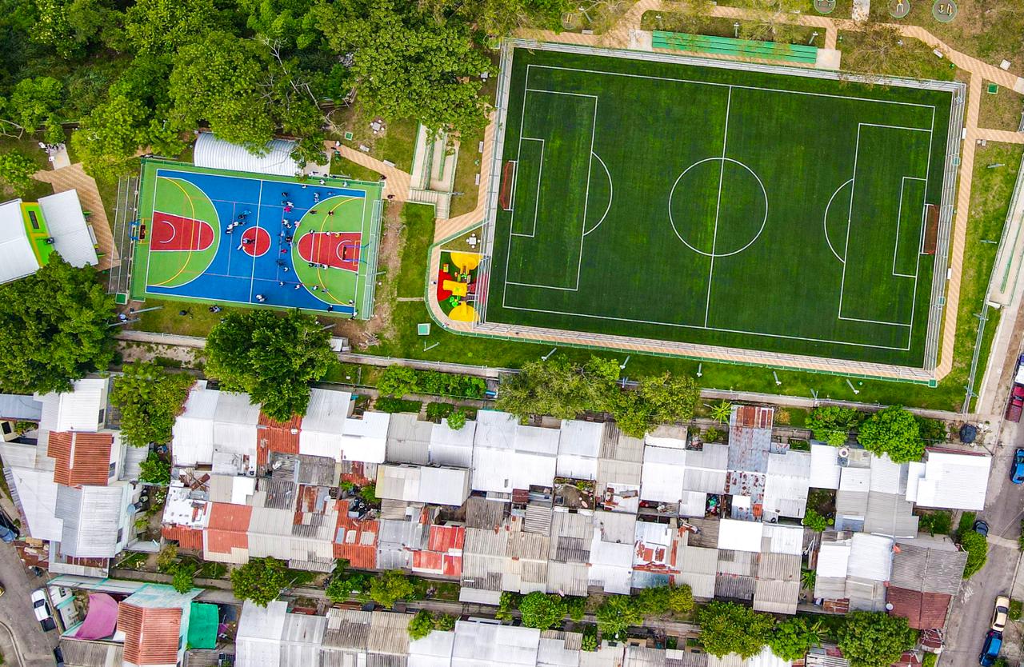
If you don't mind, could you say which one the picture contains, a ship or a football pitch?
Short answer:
football pitch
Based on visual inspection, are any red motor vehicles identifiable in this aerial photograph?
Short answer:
Yes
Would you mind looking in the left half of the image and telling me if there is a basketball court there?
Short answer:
Yes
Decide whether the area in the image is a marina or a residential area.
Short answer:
residential area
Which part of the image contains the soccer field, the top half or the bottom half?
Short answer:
top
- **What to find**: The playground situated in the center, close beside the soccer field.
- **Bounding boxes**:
[437,251,483,322]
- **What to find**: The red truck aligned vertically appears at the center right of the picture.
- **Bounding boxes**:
[1003,382,1024,425]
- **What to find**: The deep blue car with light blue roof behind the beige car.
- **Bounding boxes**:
[980,628,1004,667]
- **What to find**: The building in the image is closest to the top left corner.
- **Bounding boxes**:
[0,189,98,280]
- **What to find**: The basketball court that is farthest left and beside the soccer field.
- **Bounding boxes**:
[129,159,383,320]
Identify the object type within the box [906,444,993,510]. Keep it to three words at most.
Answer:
house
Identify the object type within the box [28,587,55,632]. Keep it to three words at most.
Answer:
truck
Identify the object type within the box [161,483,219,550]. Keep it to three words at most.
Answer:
house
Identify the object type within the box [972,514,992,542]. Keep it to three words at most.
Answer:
car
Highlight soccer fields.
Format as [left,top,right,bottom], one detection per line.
[477,42,959,369]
